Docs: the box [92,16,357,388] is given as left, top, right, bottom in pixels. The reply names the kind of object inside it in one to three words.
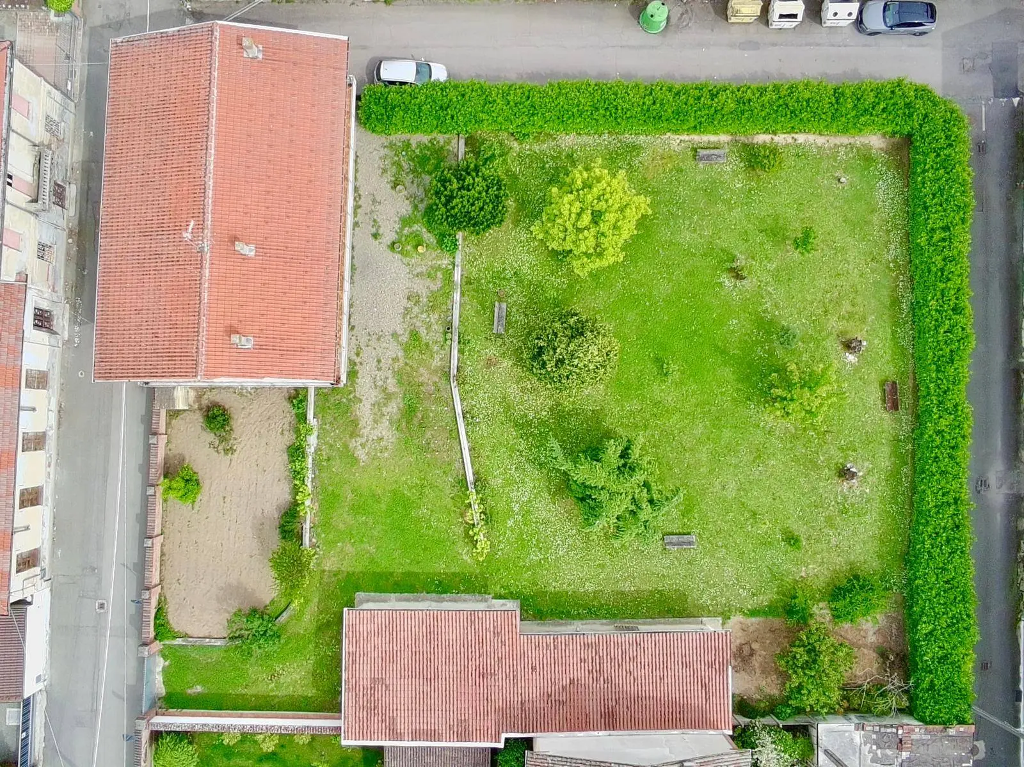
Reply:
house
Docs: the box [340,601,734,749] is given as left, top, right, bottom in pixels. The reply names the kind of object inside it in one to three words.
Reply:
house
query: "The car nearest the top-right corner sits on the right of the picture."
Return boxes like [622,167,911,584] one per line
[853,0,935,37]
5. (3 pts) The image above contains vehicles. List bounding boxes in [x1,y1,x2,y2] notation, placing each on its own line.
[372,55,446,91]
[853,0,935,37]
